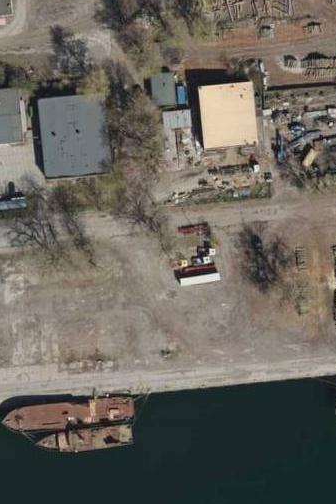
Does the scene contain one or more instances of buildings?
Yes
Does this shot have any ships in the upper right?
No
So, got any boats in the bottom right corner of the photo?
No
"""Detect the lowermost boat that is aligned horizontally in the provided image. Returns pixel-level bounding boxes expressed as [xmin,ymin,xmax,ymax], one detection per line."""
[37,424,133,452]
